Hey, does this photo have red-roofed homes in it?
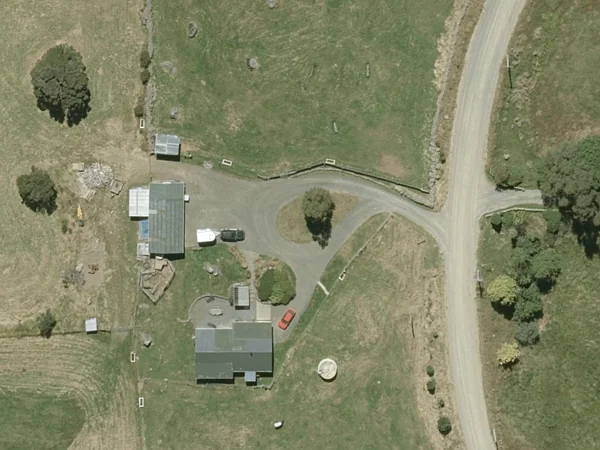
No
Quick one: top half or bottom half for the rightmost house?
bottom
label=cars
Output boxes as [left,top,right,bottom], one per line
[279,308,296,329]
[220,230,245,241]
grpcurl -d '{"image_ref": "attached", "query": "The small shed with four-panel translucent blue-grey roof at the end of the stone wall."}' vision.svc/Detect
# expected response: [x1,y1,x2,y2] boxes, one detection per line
[156,132,180,156]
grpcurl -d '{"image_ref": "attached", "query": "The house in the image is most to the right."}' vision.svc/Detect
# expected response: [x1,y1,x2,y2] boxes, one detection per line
[193,321,272,381]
